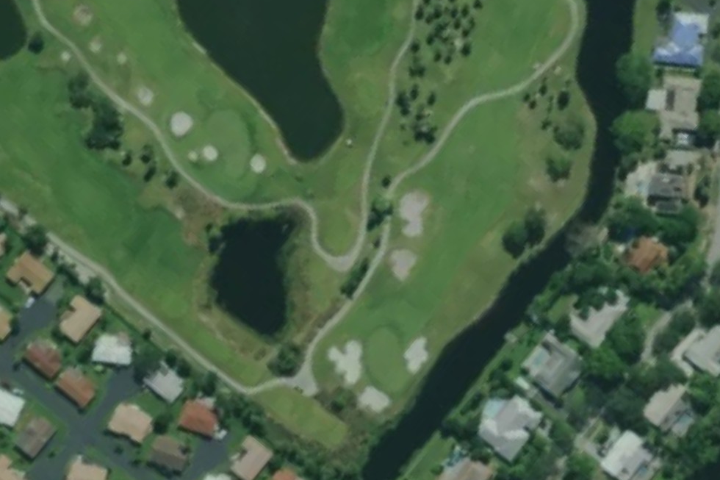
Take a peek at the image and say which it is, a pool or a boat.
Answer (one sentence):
Visible in the photo is a pool.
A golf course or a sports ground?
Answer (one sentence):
This image shows a golf course.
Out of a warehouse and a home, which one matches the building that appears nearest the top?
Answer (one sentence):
Looking closely, the building that appears nearest the top is a home.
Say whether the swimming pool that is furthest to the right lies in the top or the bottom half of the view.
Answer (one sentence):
It is in the bottom half that the swimming pool that is furthest to the right appears.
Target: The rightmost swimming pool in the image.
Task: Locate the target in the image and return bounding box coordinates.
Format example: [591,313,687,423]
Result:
[672,410,697,438]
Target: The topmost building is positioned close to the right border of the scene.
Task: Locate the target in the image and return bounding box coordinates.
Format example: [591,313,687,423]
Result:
[655,13,710,68]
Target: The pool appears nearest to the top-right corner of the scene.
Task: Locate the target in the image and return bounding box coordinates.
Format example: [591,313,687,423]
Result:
[625,163,657,196]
